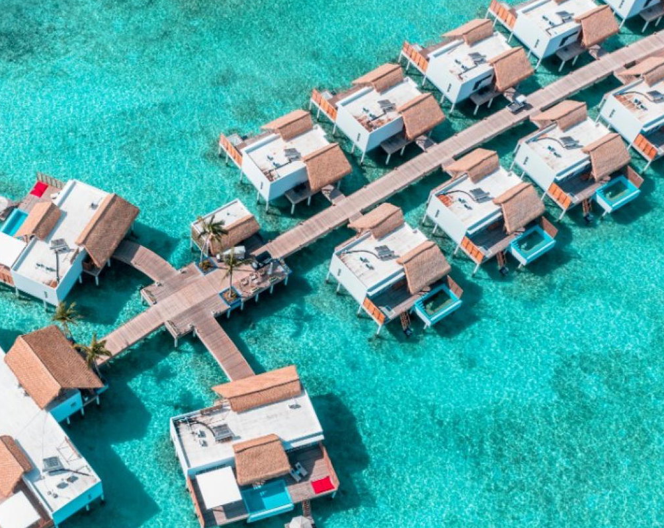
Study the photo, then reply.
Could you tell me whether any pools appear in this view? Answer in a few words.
Yes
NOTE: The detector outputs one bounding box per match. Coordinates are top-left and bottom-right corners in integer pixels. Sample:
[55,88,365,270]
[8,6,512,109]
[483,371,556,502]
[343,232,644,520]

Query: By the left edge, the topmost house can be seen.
[0,171,138,310]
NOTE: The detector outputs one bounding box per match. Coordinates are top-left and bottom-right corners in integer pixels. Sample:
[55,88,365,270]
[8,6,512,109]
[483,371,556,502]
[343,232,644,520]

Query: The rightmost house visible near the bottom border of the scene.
[170,367,341,528]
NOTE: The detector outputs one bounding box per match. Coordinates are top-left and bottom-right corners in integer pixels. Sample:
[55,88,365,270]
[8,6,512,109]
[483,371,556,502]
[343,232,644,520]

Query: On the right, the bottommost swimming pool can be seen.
[414,283,464,327]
